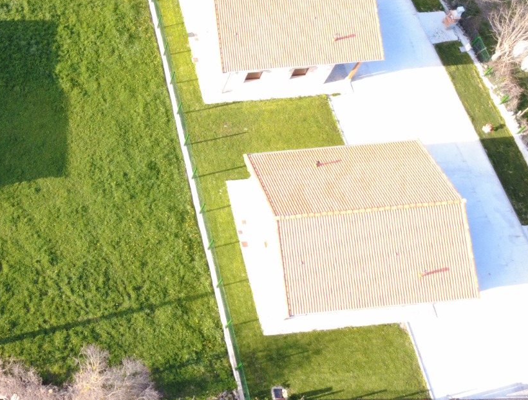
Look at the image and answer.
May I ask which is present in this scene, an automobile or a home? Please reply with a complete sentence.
Of the two, only a home appears.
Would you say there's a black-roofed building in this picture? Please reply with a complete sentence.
No, the scene contains no black-roofed building.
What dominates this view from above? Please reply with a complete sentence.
The largest share of the image is taken up by grass.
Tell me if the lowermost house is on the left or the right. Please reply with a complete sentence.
The lowermost house is on the right side of the image.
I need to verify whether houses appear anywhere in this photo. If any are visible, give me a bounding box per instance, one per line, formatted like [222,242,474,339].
[244,146,486,324]
[201,0,388,91]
